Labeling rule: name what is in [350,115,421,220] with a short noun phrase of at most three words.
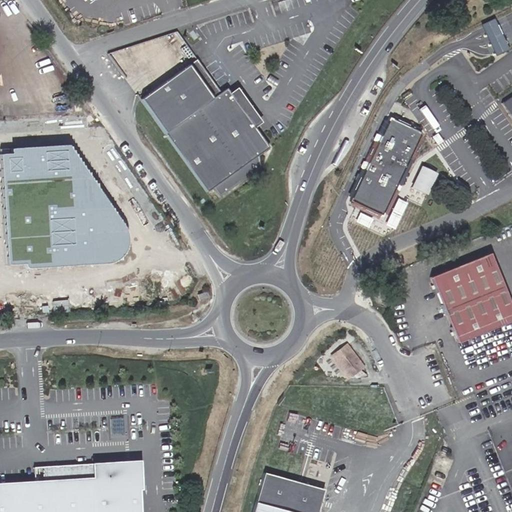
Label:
building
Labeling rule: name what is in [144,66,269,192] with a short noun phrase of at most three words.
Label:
building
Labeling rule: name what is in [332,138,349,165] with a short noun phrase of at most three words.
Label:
vehicle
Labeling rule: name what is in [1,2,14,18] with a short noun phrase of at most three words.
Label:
vehicle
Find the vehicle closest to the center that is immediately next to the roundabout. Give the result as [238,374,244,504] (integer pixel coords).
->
[272,238,286,255]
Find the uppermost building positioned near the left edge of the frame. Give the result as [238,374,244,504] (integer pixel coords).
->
[3,145,131,270]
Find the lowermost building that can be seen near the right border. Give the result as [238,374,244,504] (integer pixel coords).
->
[433,252,512,343]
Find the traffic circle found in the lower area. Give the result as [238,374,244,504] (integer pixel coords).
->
[202,254,326,381]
